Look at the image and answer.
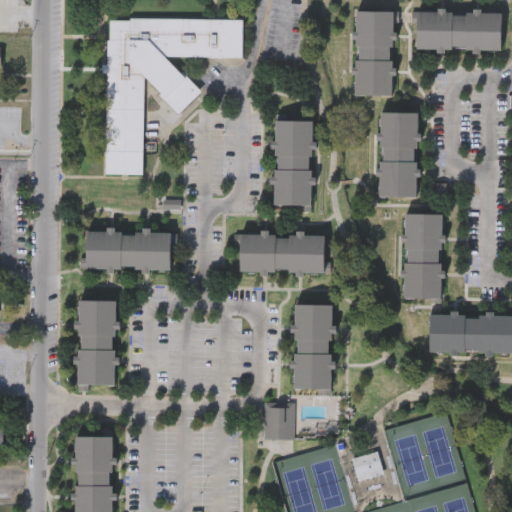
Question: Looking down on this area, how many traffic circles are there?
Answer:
zero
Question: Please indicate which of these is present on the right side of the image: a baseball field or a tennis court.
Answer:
tennis court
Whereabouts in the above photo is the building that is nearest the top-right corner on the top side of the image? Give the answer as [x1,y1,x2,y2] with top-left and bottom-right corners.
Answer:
[413,8,504,54]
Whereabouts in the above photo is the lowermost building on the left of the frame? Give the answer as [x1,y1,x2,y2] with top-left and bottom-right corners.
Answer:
[72,438,116,512]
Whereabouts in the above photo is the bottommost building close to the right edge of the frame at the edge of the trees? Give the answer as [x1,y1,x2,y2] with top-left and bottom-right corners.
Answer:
[430,313,512,356]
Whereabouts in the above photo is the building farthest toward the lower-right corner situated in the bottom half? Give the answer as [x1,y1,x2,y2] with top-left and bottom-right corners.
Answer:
[354,452,384,482]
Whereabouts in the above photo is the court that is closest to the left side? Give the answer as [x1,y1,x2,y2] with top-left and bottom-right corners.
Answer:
[276,454,322,512]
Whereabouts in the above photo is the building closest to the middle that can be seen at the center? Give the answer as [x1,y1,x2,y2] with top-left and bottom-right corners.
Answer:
[238,231,330,276]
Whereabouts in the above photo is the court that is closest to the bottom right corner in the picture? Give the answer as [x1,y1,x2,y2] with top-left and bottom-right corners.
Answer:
[434,484,474,512]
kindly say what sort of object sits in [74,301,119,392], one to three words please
building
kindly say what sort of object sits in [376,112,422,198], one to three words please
building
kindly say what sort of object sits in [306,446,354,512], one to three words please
tennis court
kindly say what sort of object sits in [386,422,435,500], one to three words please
tennis court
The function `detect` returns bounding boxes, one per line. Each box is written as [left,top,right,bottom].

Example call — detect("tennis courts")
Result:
[434,484,474,512]
[386,422,435,500]
[370,492,440,512]
[276,454,322,512]
[306,446,354,512]
[418,416,466,490]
